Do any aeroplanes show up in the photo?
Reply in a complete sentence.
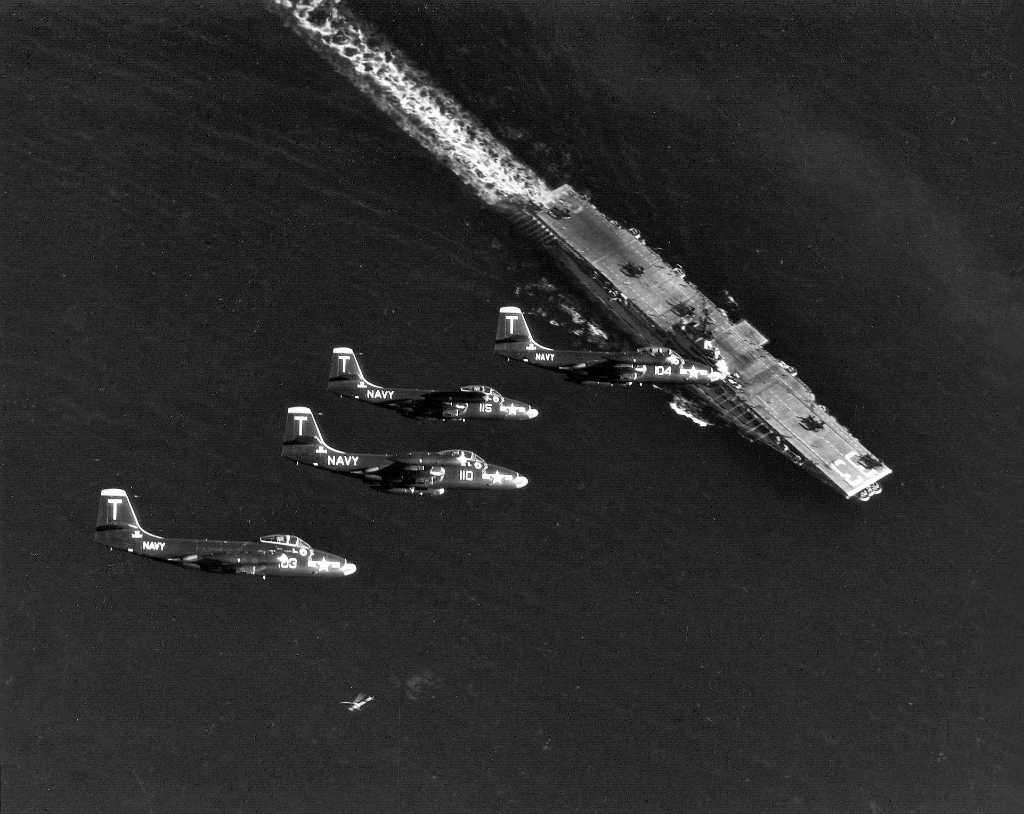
Yes, an aeroplane can be made out from above.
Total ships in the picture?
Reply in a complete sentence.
In total, there is 1 ship in the scene.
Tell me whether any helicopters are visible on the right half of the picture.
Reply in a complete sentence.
No, there's no helicopter to be seen on the right half of the picture.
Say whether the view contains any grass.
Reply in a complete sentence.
No, the scene doesn't show any grass.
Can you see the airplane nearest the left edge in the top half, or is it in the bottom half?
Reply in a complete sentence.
The bottom half of the photo is where the airplane nearest the left edge is.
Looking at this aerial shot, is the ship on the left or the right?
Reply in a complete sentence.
The ship sits on the right side.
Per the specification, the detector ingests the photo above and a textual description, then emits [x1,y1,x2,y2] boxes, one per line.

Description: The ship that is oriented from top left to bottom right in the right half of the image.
[516,184,892,503]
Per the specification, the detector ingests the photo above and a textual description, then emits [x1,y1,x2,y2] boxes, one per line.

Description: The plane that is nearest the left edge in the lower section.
[94,489,356,581]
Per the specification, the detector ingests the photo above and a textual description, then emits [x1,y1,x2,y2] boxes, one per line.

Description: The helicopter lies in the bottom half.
[343,694,374,718]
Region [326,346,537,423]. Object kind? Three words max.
airplane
